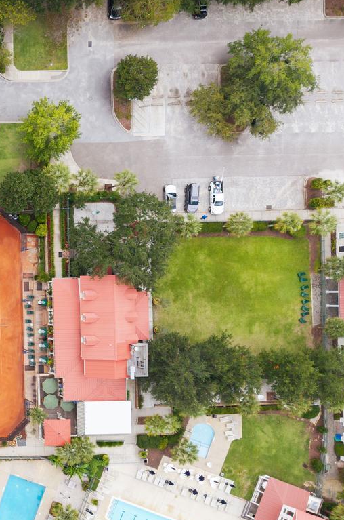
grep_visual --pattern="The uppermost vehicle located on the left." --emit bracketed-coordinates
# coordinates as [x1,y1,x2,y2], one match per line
[107,0,120,19]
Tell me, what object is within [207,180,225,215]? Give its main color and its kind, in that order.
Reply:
white vehicle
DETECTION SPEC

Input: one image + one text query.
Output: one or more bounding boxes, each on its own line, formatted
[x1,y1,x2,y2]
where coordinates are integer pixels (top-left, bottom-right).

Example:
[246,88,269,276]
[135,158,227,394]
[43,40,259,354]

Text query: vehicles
[162,184,178,207]
[193,0,209,20]
[107,0,120,19]
[207,180,225,215]
[183,183,200,212]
